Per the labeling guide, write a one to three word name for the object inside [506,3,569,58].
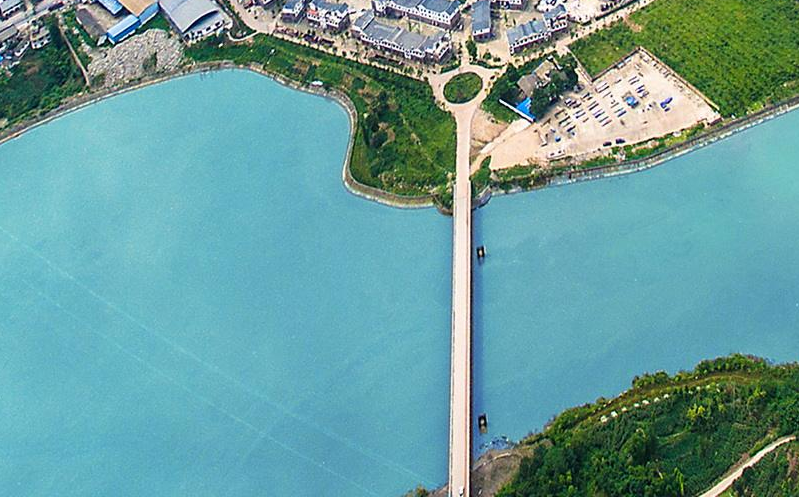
house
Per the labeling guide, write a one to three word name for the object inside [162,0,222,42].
building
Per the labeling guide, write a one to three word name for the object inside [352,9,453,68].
house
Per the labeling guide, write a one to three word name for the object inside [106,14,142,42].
building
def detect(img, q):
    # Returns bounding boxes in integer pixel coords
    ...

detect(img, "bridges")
[449,171,472,497]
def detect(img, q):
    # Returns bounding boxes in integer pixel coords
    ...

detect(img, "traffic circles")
[432,65,492,123]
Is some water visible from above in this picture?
Yes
